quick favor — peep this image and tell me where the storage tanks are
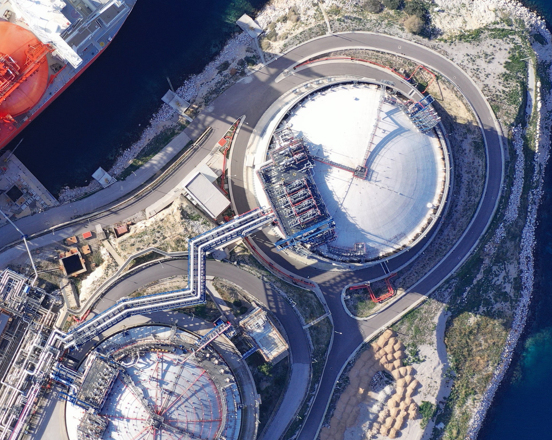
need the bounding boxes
[61,319,246,440]
[253,77,451,265]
